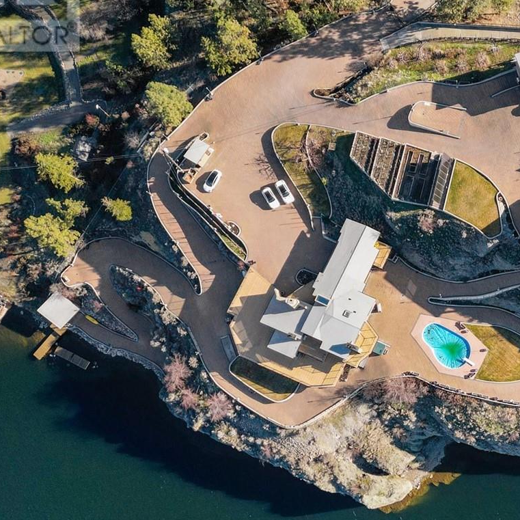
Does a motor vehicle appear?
Yes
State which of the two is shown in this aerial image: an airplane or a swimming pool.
swimming pool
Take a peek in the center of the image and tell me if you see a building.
Yes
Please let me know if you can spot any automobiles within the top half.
Yes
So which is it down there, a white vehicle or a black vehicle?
white vehicle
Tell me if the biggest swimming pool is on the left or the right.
right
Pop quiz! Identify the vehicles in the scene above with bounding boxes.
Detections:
[273,177,294,205]
[259,183,280,209]
[200,168,222,193]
